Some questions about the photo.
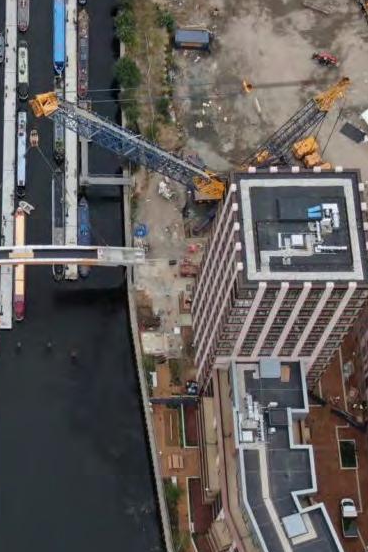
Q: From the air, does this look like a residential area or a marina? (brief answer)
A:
marina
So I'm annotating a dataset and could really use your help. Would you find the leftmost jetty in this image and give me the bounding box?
[0,0,17,330]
